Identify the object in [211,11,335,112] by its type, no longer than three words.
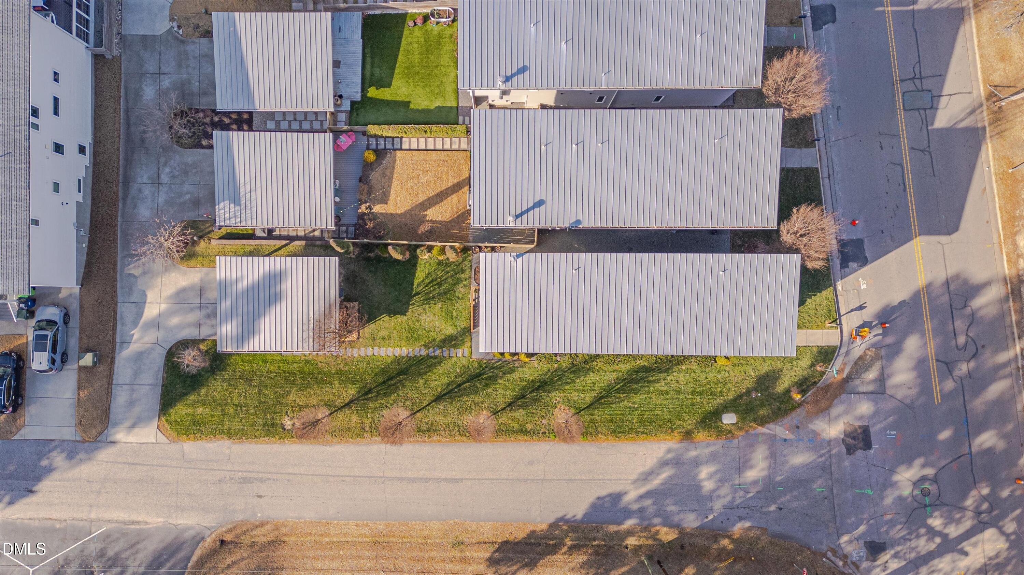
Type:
building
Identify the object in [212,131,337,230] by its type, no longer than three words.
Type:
building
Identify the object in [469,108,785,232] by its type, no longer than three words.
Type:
house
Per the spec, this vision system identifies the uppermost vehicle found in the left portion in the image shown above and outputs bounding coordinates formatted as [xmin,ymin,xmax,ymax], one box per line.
[27,307,71,376]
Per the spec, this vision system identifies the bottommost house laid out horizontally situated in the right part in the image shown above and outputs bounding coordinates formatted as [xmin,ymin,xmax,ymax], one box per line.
[479,253,804,359]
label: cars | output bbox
[27,307,71,376]
[0,351,22,422]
